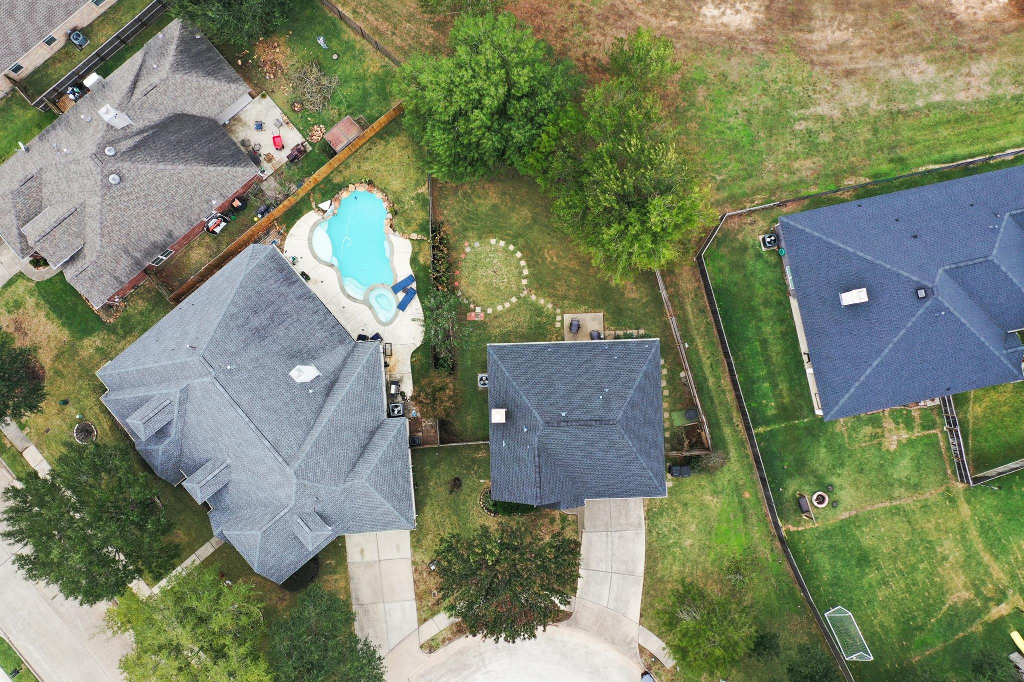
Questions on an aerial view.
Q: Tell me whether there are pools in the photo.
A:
Yes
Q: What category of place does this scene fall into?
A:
residential area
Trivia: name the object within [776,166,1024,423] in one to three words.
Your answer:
house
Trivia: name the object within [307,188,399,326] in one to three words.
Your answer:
swimming pool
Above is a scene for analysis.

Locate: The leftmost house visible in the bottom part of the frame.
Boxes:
[94,243,417,585]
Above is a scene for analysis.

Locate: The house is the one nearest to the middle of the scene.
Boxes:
[486,339,668,509]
